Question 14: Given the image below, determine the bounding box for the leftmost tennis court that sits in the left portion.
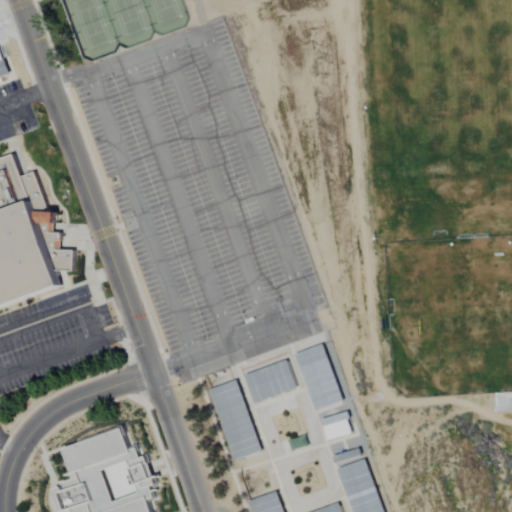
[64,0,120,59]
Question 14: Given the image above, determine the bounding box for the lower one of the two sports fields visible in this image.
[377,238,512,396]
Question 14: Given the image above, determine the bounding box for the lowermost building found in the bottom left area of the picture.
[53,428,161,512]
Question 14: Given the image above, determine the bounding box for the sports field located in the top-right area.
[365,0,512,240]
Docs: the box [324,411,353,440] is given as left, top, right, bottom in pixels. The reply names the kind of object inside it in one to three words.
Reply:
shed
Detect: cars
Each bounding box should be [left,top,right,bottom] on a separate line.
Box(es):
[12,82,18,92]
[21,122,27,131]
[2,88,8,97]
